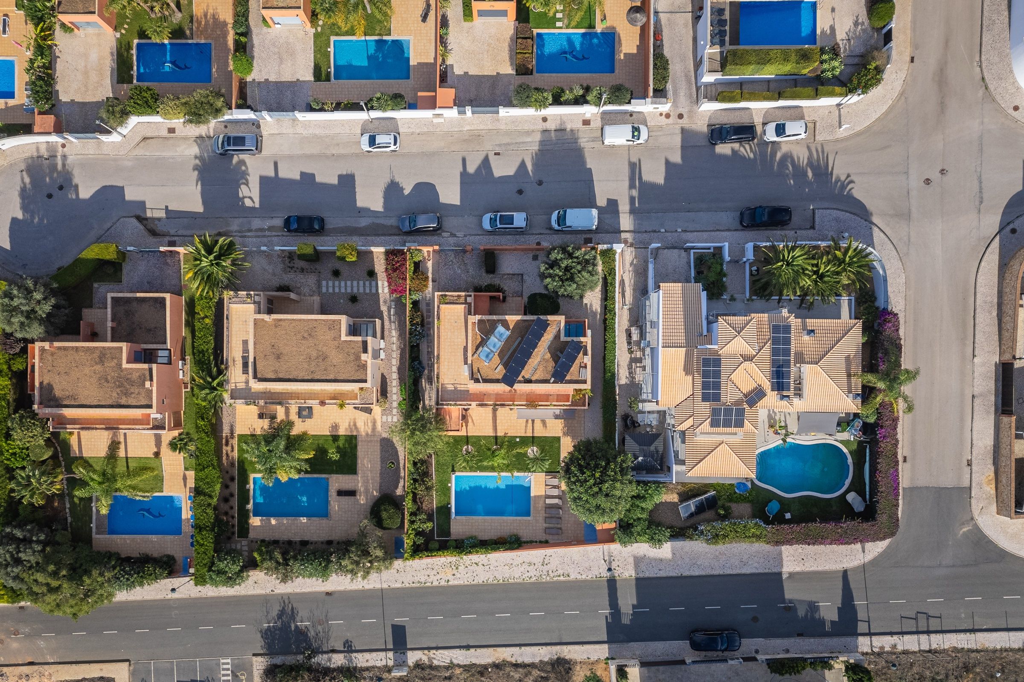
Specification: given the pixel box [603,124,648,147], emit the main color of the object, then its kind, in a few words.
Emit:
white vehicle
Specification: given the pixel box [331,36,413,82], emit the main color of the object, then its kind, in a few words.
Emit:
blue swimming pool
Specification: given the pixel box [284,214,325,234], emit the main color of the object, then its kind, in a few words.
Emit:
black car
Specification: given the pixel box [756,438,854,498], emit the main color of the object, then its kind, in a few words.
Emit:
blue swimming pool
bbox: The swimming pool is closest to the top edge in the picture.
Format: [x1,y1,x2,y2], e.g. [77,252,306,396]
[726,0,820,48]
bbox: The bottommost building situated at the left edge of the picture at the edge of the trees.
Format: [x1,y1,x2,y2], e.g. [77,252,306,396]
[28,293,195,431]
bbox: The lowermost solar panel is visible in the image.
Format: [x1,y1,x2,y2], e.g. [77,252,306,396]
[678,492,718,520]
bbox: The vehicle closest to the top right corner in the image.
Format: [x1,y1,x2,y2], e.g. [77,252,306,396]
[764,121,806,143]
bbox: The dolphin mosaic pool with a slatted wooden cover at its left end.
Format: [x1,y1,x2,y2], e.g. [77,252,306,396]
[93,492,185,538]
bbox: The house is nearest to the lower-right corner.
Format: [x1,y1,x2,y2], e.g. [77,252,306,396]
[652,283,863,483]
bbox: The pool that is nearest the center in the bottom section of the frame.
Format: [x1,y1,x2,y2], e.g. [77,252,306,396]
[451,472,533,520]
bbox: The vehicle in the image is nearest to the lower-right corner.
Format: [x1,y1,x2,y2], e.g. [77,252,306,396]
[690,627,739,653]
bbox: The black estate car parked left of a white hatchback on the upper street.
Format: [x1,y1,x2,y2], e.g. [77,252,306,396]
[709,124,755,147]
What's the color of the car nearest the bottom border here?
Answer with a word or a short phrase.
black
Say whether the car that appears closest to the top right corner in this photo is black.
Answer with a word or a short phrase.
No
